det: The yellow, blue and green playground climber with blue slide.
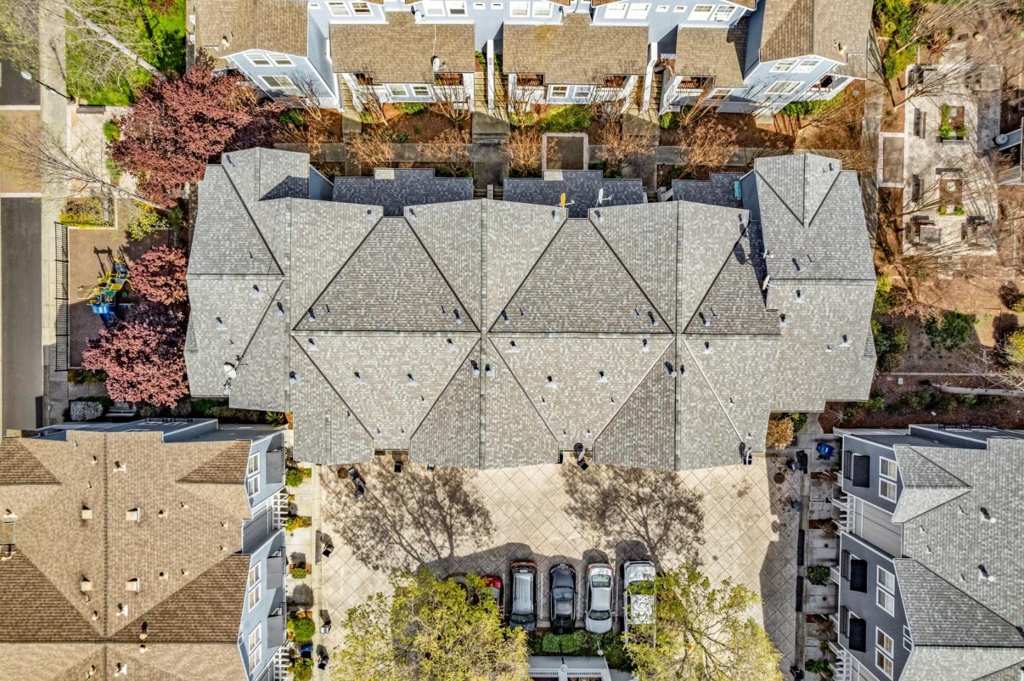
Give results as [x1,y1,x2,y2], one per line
[86,259,143,322]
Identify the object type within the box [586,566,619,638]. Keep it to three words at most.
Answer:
car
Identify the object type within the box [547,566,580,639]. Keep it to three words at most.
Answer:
car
